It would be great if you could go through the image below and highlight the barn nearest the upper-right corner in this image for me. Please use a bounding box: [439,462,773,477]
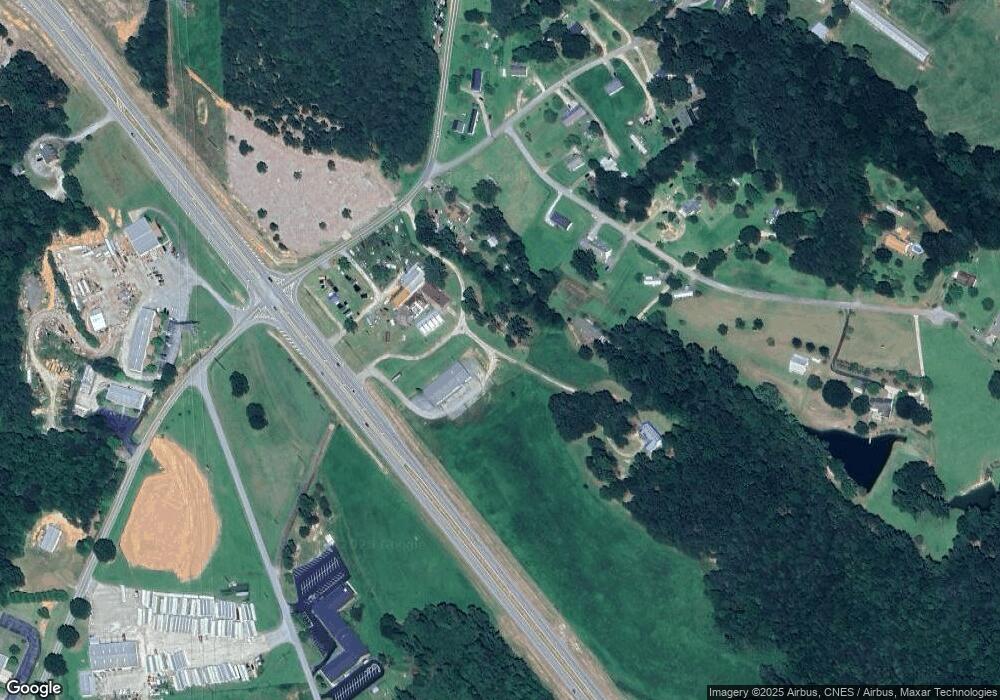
[843,0,931,62]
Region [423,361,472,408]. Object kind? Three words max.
building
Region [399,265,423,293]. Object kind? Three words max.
barn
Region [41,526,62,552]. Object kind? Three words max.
barn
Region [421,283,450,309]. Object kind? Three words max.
house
